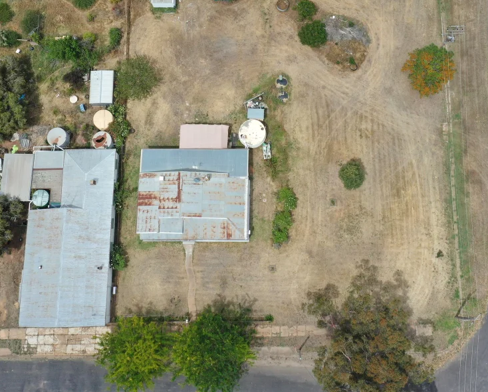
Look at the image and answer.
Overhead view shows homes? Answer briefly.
Yes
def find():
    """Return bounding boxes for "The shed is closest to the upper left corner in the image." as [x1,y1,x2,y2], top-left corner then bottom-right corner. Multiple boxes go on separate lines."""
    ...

[89,69,116,107]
